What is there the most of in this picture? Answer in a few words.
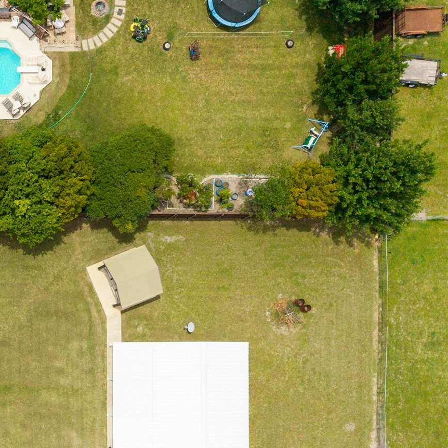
grass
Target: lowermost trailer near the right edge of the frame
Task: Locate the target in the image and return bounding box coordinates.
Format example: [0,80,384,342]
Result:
[399,53,448,88]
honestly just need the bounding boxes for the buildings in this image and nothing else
[94,245,163,312]
[105,342,248,448]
